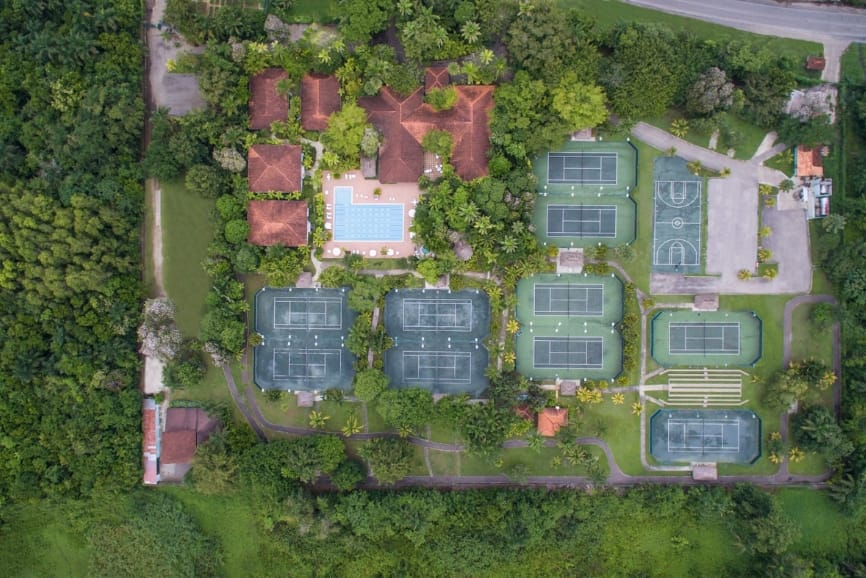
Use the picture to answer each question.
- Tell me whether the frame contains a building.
Yes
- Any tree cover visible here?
Yes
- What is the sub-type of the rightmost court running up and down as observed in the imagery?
basketball court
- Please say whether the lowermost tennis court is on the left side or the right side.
right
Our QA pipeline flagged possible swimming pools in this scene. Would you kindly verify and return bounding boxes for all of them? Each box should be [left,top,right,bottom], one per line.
[333,185,404,242]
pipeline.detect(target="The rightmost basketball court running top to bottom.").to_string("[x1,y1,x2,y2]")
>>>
[653,155,702,272]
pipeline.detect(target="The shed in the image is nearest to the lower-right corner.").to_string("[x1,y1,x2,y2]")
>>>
[689,463,718,480]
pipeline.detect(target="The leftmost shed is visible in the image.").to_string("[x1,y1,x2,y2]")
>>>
[141,399,160,485]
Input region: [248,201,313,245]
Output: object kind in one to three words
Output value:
building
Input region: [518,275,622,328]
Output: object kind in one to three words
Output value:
tennis court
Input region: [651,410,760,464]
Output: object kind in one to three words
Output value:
tennis court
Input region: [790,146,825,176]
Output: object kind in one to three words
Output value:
house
